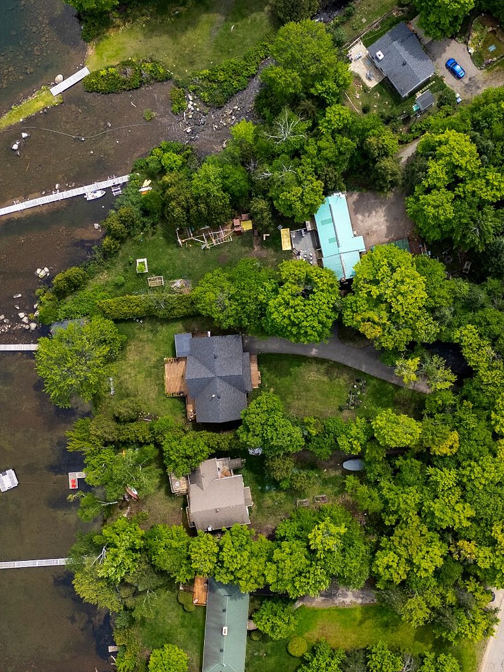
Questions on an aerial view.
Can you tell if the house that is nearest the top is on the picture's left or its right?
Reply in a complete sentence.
The house that is nearest the top sits on the right side.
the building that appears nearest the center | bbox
[164,330,260,422]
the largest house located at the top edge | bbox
[347,22,436,97]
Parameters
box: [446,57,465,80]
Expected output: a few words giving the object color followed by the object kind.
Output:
blue car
